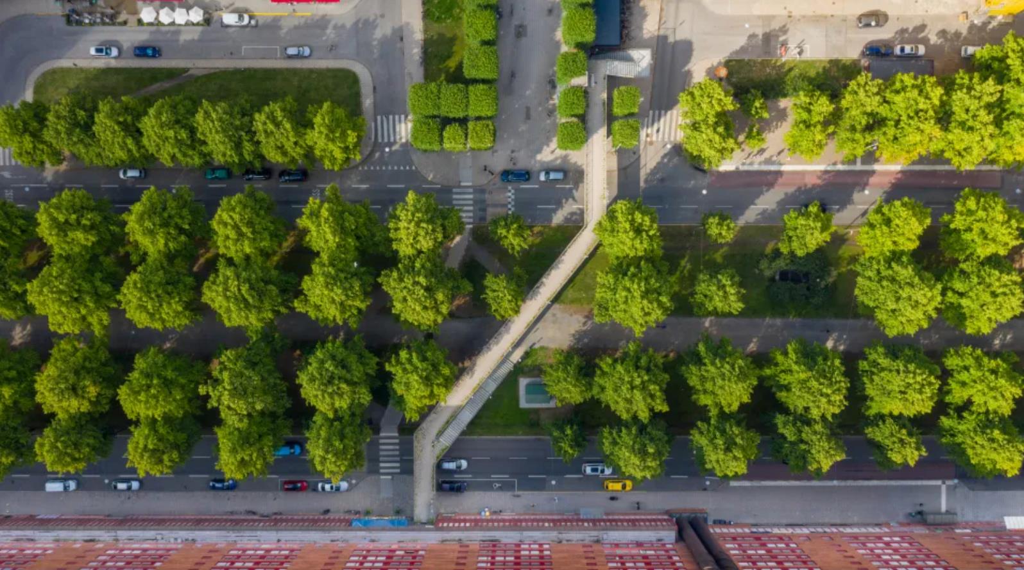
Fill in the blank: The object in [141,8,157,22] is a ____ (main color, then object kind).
white umbrella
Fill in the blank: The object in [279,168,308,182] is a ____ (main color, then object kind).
black car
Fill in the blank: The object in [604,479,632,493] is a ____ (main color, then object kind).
yellow car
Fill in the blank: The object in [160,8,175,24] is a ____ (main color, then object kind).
white umbrella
